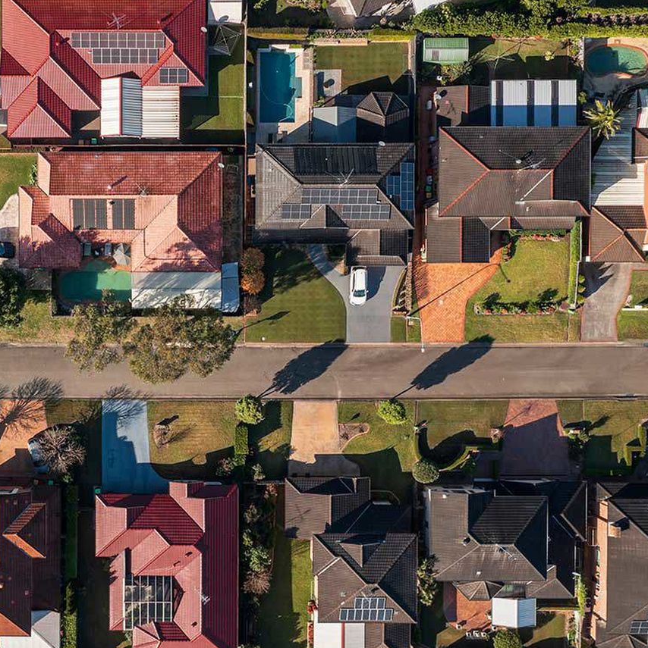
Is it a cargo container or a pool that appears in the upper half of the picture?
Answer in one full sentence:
Looking in the upper half of the picture, you will find a pool.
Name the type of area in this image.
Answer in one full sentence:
This image shows a residential area.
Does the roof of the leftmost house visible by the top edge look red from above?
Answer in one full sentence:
Yes, the roof of the leftmost house visible by the top edge appears red.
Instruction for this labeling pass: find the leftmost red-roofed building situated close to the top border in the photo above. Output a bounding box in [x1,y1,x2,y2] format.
[0,0,207,140]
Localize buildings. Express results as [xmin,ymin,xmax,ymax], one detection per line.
[18,150,223,309]
[252,143,416,267]
[424,477,586,628]
[421,38,469,66]
[283,477,418,648]
[0,487,62,648]
[423,79,590,263]
[208,0,243,26]
[0,0,207,140]
[95,481,238,648]
[591,482,648,648]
